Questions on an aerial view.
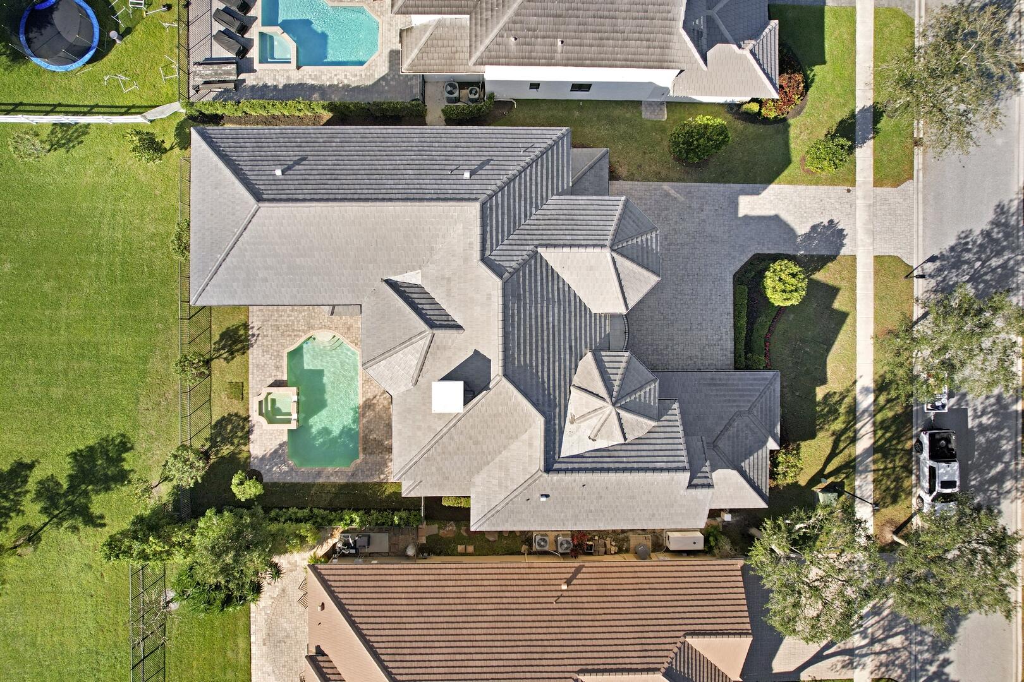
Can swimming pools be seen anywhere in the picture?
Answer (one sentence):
Yes, there's a swimming pool down there.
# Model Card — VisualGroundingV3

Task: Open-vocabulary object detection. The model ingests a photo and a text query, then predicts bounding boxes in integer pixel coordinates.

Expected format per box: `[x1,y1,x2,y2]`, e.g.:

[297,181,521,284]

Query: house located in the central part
[188,125,782,532]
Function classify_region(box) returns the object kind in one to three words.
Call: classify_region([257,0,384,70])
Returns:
swimming pool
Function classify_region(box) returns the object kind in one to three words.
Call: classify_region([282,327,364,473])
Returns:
swimming pool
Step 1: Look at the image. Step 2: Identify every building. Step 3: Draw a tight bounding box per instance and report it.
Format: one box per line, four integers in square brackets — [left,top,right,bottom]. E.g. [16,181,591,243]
[304,553,753,682]
[389,0,781,103]
[188,125,782,532]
